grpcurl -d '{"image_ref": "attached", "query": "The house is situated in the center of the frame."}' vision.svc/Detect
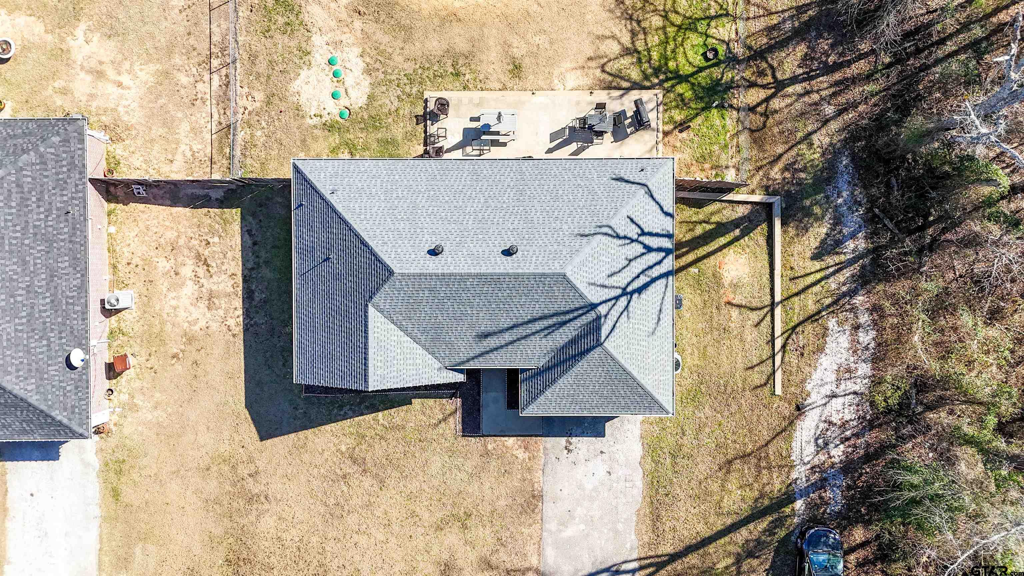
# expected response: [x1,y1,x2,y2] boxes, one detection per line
[292,157,676,417]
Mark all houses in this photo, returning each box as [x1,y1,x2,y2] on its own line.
[292,157,676,417]
[0,113,114,444]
